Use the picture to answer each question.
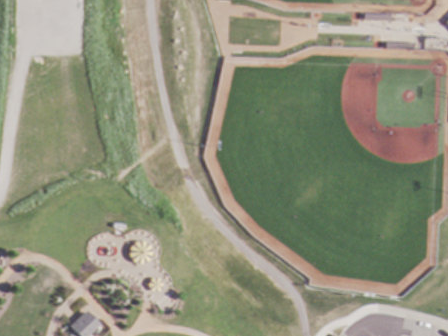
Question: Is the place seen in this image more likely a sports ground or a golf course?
sports ground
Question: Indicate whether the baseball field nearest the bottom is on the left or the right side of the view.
right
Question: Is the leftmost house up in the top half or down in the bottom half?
bottom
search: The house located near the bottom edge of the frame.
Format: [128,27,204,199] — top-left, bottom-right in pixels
[70,312,96,336]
